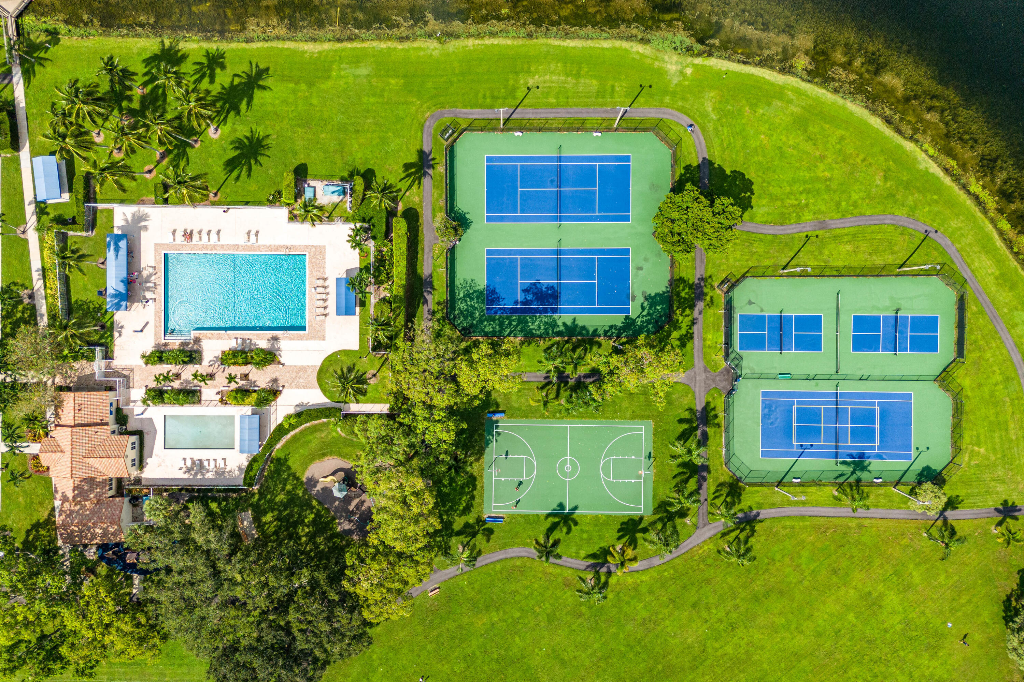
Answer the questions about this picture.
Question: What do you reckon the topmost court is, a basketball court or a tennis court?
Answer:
tennis court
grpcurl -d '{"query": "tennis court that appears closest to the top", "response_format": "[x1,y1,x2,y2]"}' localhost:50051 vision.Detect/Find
[447,131,672,235]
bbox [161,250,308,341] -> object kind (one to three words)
swimming pool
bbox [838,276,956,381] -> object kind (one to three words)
sports court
